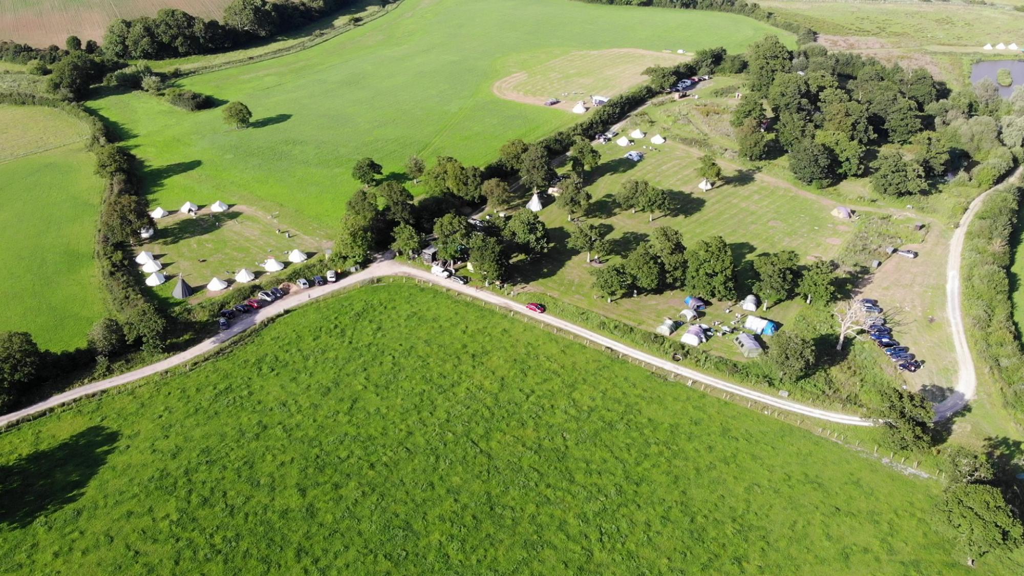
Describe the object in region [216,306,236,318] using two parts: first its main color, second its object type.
black vehicle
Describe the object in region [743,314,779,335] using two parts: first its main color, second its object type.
white tent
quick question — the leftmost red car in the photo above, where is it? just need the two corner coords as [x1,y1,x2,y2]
[246,295,262,307]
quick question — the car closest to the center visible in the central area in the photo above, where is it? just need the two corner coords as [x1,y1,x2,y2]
[526,299,544,311]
